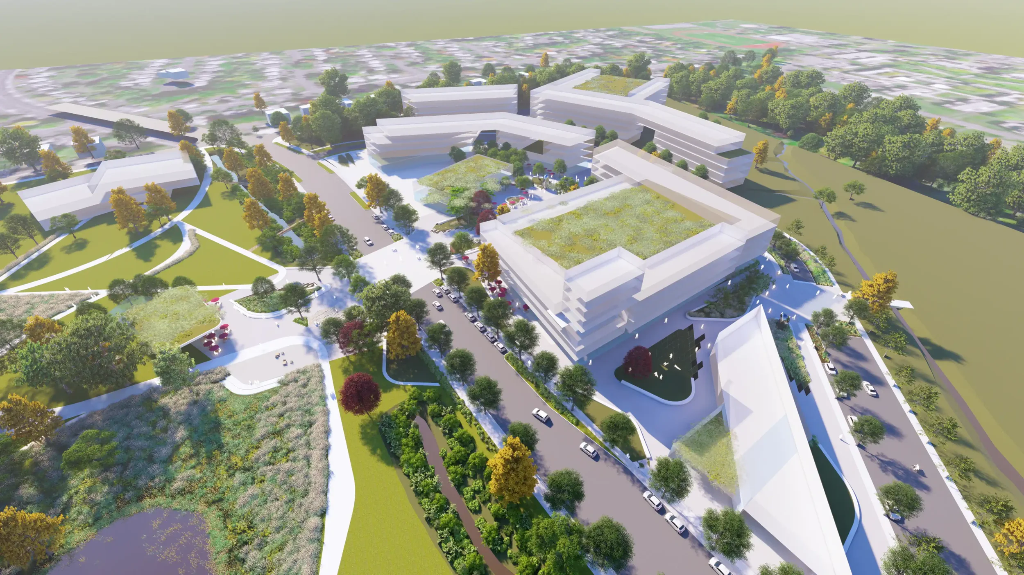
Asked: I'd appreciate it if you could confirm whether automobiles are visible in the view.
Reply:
Yes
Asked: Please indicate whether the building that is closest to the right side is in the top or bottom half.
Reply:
bottom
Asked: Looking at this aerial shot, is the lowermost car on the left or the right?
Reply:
right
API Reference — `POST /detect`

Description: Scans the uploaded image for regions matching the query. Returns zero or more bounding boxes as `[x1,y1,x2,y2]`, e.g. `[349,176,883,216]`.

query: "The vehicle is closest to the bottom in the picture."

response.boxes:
[707,554,729,575]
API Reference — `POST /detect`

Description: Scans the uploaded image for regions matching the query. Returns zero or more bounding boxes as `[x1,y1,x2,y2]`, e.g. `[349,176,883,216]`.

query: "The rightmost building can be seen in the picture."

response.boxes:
[711,315,837,575]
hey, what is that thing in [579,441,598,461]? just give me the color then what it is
white car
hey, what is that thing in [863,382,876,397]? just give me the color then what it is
white vehicle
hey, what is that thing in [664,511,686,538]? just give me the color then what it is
white car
